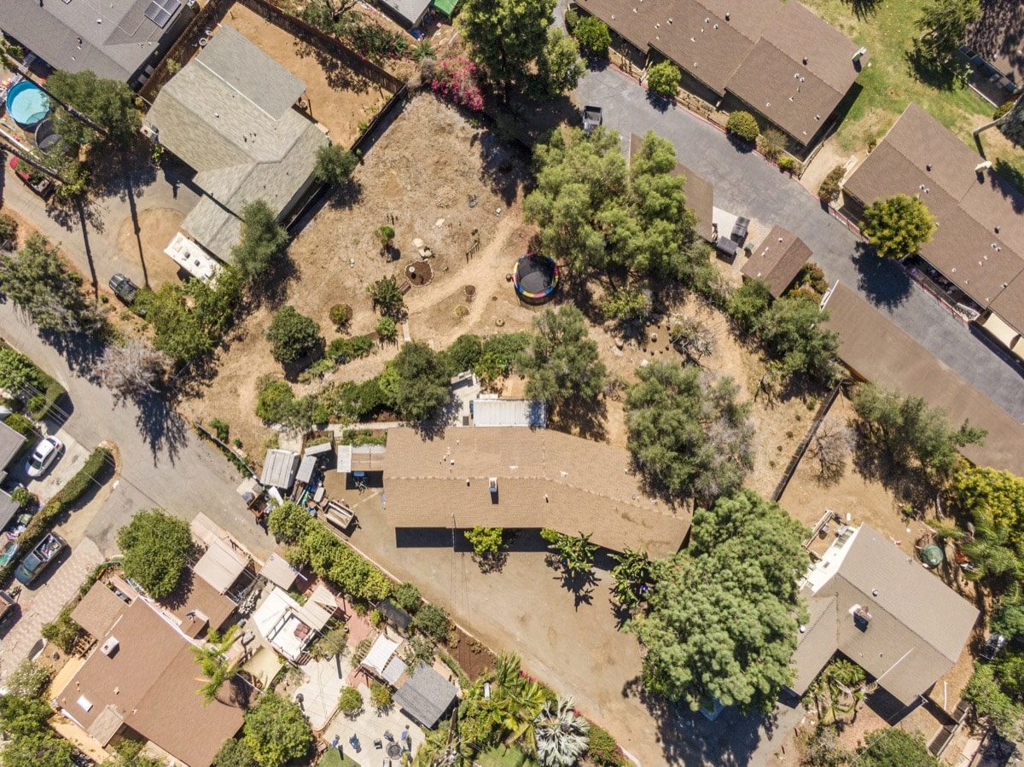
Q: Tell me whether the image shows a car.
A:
Yes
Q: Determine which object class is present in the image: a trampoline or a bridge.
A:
trampoline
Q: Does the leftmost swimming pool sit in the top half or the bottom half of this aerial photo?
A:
top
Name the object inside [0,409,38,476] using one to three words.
house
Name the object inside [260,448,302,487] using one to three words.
shed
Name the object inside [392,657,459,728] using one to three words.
shed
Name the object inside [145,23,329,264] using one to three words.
house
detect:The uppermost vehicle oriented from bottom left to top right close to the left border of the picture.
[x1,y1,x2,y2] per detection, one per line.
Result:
[21,434,64,478]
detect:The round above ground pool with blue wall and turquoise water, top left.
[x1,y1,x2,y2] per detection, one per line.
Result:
[0,79,51,129]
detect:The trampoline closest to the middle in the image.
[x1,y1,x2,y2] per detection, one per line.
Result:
[514,252,560,301]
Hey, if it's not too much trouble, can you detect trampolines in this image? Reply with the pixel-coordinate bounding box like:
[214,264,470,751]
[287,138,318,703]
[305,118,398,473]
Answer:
[31,120,66,157]
[514,252,560,301]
